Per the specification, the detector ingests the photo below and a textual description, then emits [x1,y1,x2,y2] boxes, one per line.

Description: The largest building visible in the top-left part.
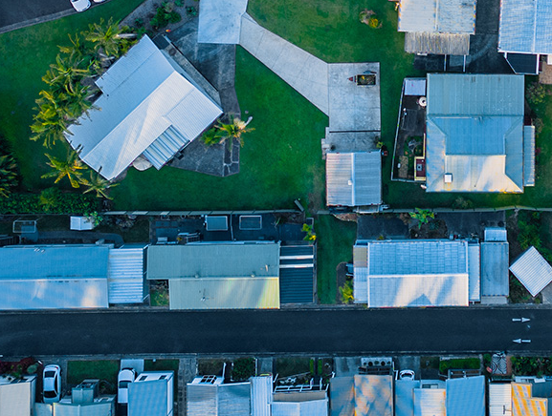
[64,33,225,181]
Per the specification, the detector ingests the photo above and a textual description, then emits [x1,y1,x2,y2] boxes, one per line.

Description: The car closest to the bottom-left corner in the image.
[39,363,63,402]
